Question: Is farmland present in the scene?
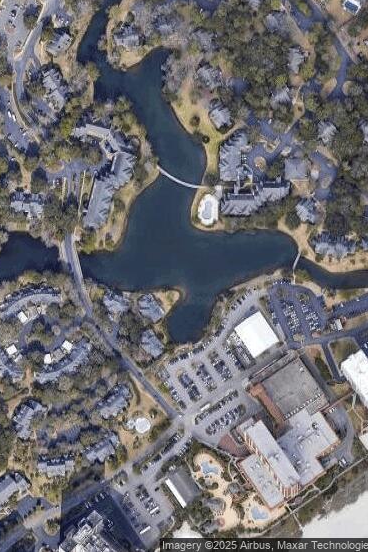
No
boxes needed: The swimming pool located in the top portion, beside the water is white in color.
[198,192,220,225]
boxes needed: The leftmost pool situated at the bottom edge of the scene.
[193,452,286,531]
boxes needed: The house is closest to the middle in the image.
[137,292,167,324]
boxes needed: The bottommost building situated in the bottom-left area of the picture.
[55,511,126,552]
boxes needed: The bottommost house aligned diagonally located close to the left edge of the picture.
[0,467,33,510]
